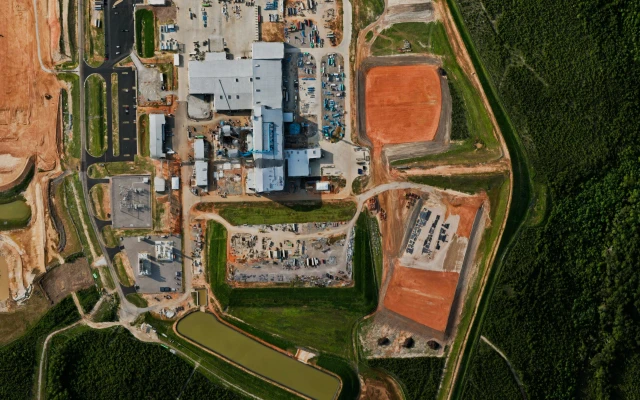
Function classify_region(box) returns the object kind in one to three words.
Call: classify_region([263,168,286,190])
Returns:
building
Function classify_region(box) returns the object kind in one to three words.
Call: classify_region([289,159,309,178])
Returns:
building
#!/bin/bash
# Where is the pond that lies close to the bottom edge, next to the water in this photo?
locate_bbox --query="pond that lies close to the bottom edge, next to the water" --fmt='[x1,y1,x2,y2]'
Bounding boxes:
[177,310,339,400]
